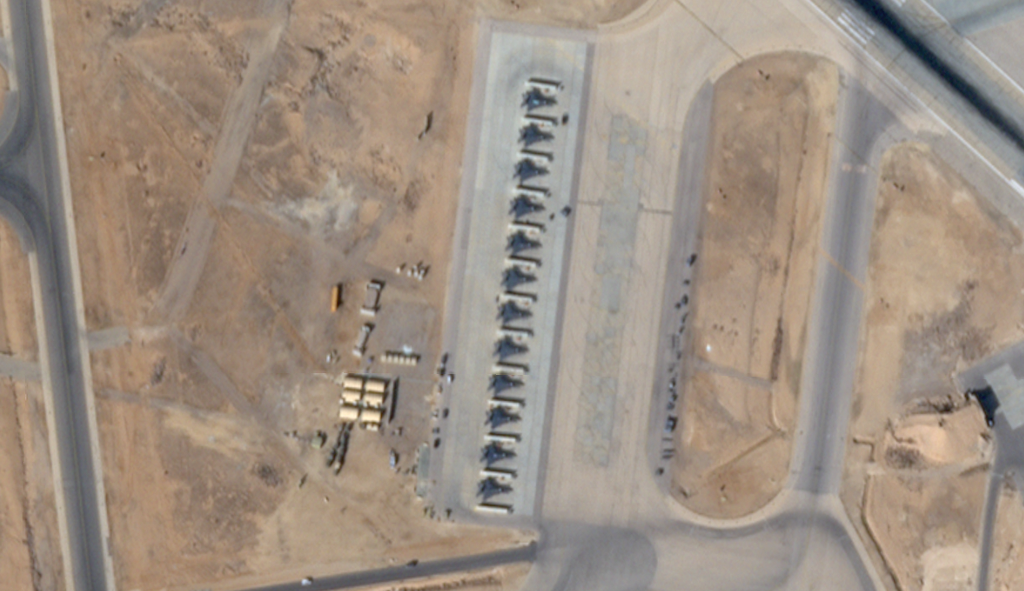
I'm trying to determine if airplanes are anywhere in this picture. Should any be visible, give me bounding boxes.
[513,159,547,182]
[501,266,536,290]
[488,371,523,395]
[521,89,555,113]
[496,301,530,325]
[476,477,511,500]
[505,232,540,256]
[480,442,515,465]
[485,406,520,429]
[493,336,528,360]
[518,124,553,148]
[508,195,543,219]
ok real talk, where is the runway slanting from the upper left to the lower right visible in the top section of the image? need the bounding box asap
[804,0,1024,197]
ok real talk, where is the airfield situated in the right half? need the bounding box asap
[424,0,1024,591]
